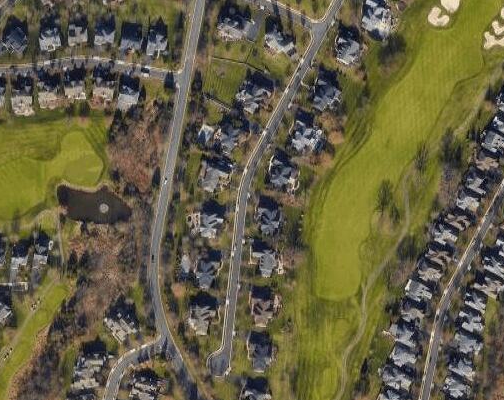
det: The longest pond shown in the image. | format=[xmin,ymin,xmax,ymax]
[57,184,132,225]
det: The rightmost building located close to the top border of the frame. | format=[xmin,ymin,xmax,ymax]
[361,0,397,37]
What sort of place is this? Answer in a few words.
residential area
